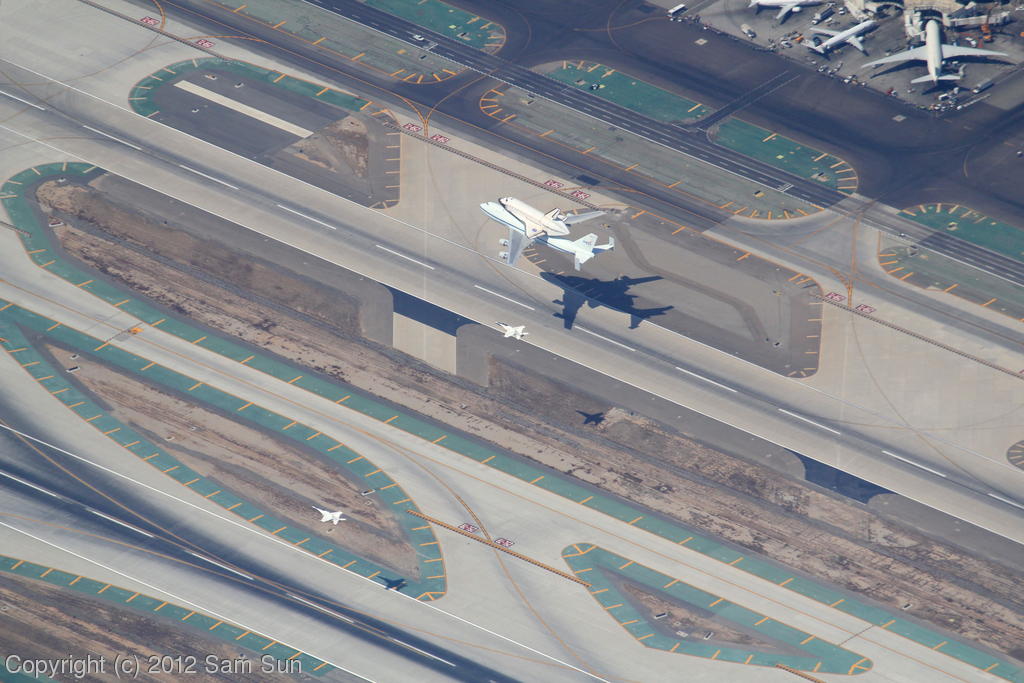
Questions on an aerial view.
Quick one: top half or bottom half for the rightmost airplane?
top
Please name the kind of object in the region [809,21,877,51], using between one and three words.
airplane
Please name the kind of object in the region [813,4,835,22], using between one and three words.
vehicle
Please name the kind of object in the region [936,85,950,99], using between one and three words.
work vehicle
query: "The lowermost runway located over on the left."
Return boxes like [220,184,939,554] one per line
[0,395,610,683]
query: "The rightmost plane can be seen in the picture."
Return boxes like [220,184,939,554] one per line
[864,19,1006,83]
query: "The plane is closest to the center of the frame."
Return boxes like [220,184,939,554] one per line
[496,322,530,337]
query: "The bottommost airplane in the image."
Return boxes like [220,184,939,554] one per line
[312,506,346,523]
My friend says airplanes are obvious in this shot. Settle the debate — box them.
[864,19,1006,83]
[809,21,877,51]
[312,506,346,523]
[750,0,824,16]
[496,322,530,337]
[479,199,617,271]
